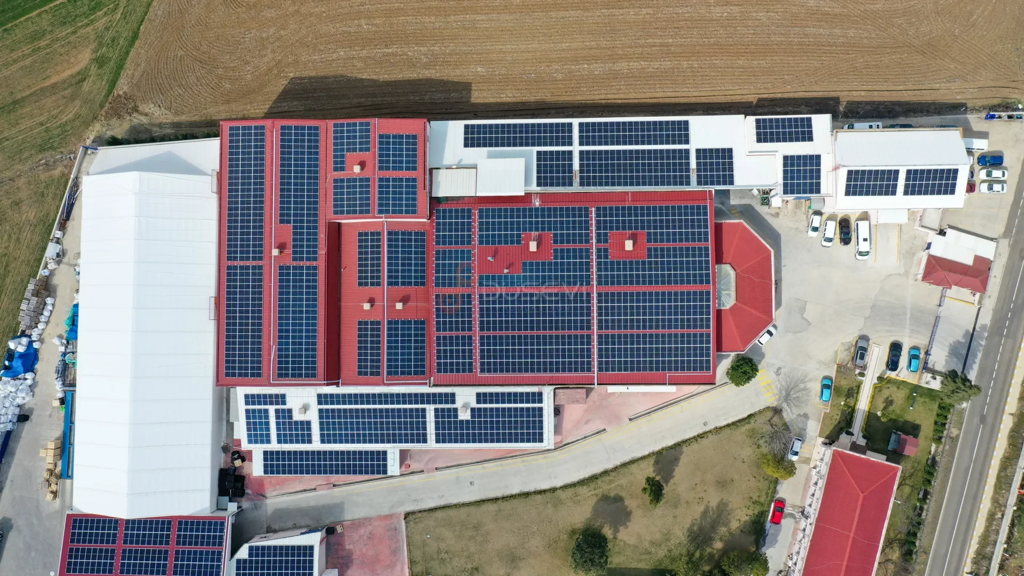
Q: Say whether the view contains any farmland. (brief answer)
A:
Yes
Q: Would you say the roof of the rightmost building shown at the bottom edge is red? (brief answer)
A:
Yes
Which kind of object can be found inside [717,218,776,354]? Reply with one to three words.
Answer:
building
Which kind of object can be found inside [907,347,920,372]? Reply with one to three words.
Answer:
vehicle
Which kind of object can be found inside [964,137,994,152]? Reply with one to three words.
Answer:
vehicle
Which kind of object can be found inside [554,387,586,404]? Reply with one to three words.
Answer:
shed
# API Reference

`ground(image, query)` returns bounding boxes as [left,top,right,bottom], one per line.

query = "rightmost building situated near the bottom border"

[778,447,901,576]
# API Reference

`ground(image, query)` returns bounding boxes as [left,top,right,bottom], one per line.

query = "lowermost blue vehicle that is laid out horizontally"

[976,153,1005,165]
